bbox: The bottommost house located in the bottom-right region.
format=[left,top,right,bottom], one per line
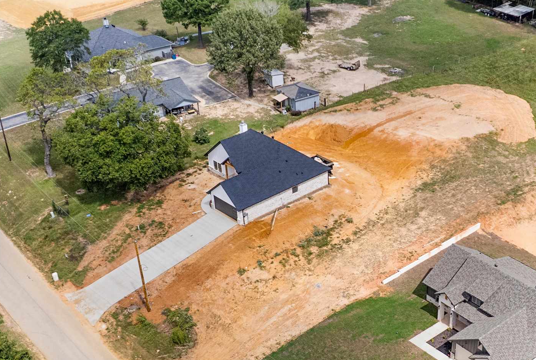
[410,321,454,360]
